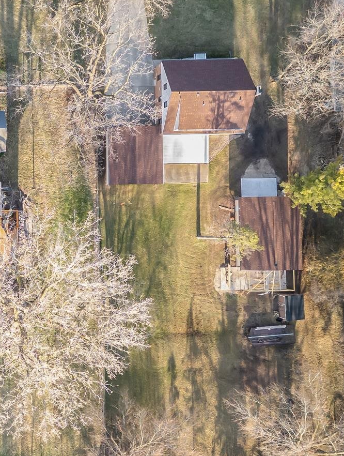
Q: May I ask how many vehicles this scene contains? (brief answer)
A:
0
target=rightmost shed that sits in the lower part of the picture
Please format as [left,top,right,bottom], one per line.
[273,295,305,321]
